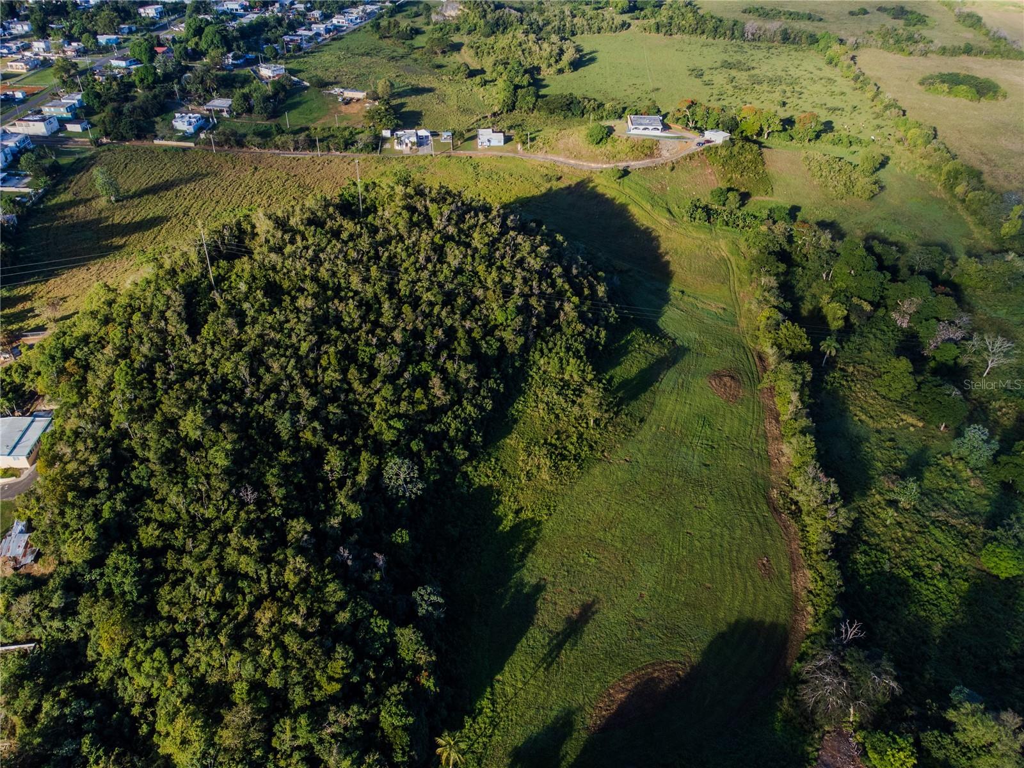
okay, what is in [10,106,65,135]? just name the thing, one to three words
building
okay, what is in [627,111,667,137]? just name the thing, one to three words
house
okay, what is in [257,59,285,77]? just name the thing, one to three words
house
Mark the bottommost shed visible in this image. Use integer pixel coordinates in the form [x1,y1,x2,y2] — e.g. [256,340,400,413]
[0,516,34,569]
